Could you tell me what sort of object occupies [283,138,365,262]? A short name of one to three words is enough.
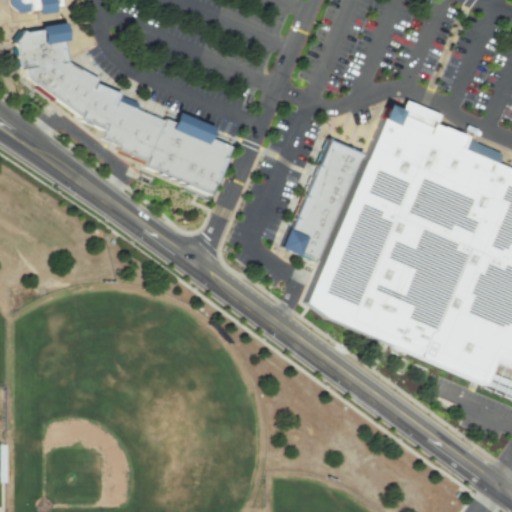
building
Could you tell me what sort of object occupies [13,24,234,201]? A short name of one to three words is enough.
building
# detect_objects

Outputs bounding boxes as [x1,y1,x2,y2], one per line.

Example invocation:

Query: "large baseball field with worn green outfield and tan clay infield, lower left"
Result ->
[14,284,266,512]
